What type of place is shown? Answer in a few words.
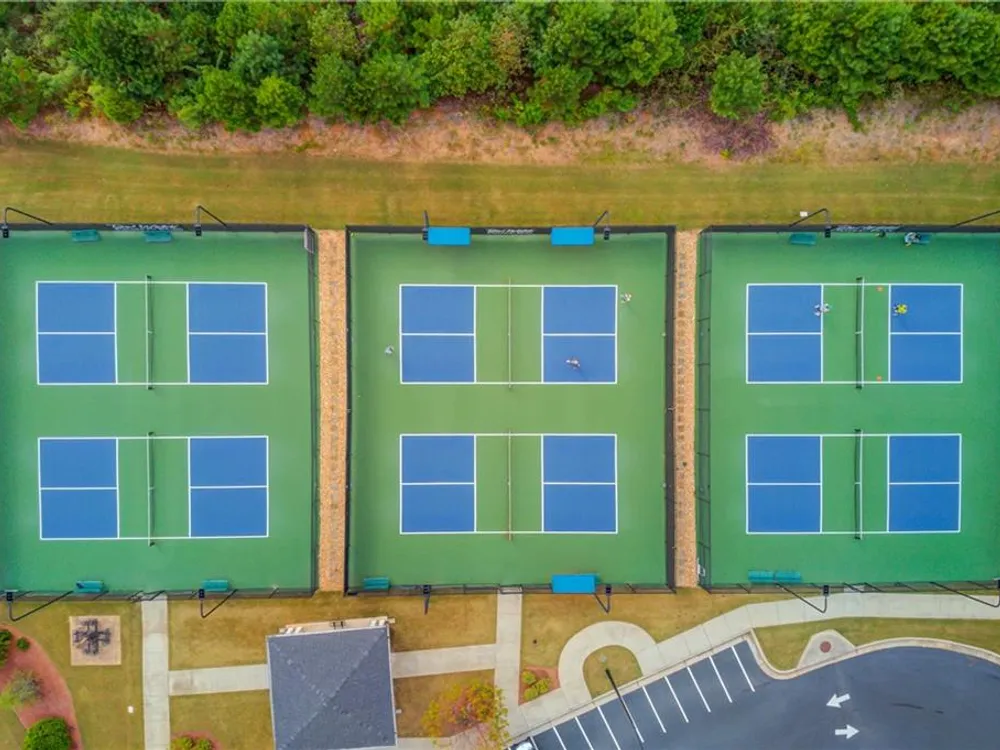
sports ground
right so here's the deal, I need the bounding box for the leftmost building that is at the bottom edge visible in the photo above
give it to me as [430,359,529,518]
[267,617,399,750]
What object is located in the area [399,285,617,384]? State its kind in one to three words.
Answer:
sports court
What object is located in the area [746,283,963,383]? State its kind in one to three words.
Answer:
sports court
